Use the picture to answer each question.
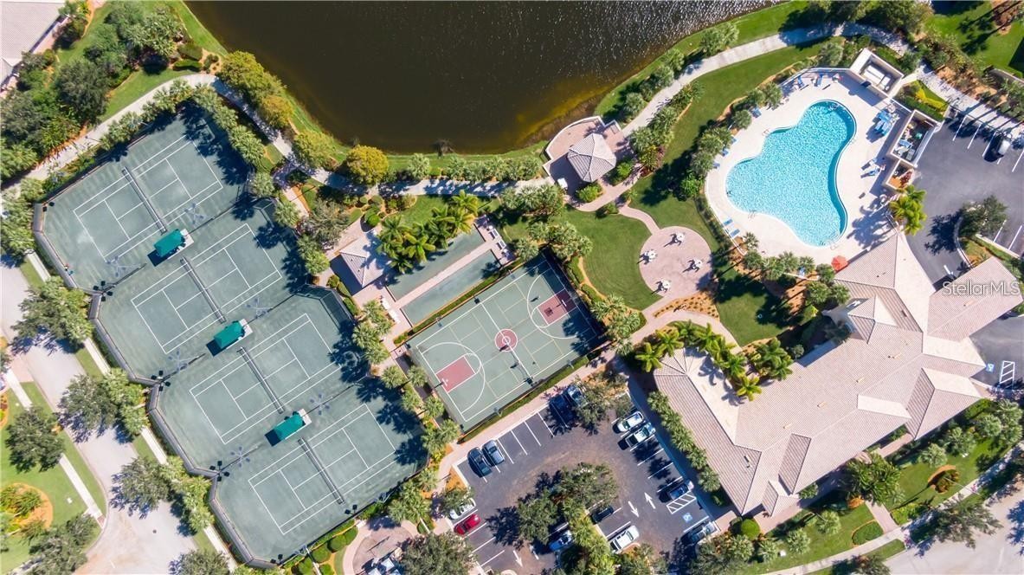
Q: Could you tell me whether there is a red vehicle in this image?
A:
Yes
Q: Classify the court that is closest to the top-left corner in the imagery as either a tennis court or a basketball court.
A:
tennis court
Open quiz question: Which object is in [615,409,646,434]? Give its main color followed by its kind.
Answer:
white car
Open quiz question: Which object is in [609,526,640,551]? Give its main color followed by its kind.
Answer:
white car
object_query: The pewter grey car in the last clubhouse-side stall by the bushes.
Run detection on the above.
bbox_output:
[689,520,719,544]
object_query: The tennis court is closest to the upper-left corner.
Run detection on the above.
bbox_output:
[43,106,266,291]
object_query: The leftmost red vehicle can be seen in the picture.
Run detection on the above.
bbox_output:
[454,512,482,534]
